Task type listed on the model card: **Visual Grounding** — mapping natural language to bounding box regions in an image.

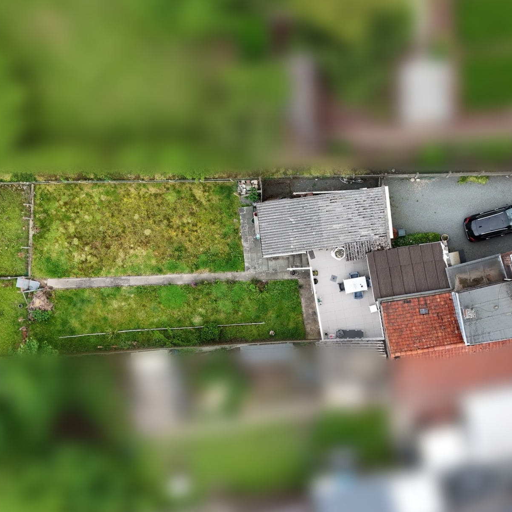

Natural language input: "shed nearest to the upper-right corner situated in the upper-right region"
[399,63,451,129]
